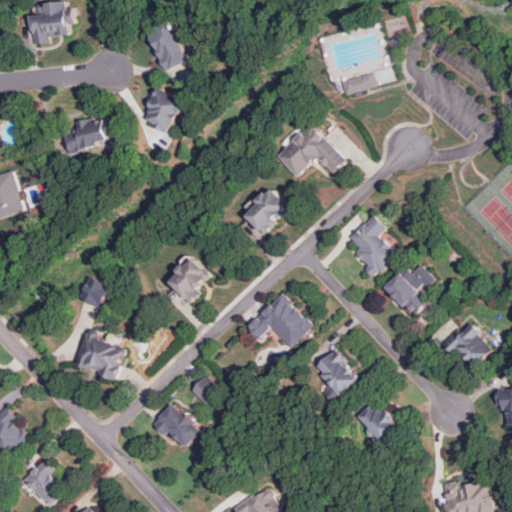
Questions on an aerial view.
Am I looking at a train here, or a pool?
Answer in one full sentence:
Visible in the photo is a pool.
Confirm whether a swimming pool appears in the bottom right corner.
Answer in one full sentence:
No, no swimming pool appears in the bottom right corner.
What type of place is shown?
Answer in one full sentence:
It's a residential area.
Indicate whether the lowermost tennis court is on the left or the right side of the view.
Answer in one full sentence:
The lowermost tennis court sits on the right side.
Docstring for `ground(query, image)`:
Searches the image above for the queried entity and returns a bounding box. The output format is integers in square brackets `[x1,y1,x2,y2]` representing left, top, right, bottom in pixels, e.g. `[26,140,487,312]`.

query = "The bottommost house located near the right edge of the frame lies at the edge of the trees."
[441,478,496,512]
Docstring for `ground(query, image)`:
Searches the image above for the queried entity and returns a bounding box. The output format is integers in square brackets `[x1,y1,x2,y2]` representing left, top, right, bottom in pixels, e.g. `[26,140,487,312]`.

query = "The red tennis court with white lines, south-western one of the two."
[481,198,512,242]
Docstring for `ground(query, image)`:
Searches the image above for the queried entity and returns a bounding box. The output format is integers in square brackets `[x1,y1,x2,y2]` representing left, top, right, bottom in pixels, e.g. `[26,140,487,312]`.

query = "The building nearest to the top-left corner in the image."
[26,0,73,47]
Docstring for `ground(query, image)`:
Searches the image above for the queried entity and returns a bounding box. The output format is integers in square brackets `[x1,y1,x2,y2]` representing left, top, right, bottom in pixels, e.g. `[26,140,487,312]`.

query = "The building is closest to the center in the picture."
[242,189,282,236]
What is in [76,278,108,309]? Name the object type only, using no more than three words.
building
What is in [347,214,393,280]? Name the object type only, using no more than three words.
house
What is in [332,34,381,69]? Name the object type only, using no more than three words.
swimming pool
